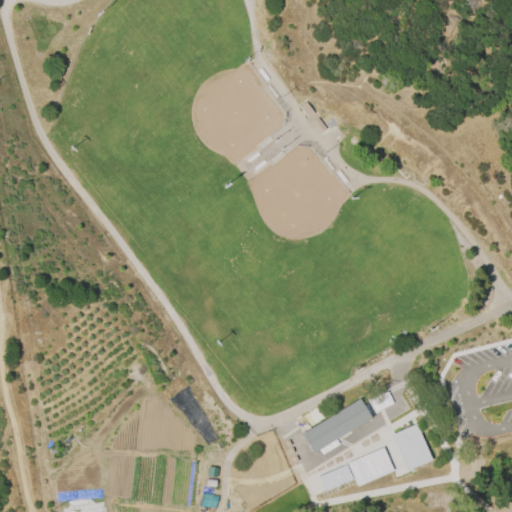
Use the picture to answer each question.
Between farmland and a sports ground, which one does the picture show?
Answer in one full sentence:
What you see here is a sports ground.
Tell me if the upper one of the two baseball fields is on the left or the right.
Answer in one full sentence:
You can find the upper one of the two baseball fields on the left side of the picture.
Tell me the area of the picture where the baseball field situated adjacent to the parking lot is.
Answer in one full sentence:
The baseball field situated adjacent to the parking lot sits in the center section of the image.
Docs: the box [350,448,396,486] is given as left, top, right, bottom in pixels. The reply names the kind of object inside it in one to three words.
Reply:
building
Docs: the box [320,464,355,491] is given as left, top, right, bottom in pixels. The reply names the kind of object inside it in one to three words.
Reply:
building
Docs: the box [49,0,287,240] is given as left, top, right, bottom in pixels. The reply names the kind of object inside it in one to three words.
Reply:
baseball field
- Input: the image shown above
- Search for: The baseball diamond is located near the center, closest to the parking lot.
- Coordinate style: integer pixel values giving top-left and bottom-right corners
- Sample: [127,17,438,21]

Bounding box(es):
[128,147,468,414]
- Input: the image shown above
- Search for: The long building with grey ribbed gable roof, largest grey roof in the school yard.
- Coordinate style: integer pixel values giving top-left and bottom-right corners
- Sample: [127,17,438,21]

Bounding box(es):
[305,398,372,452]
